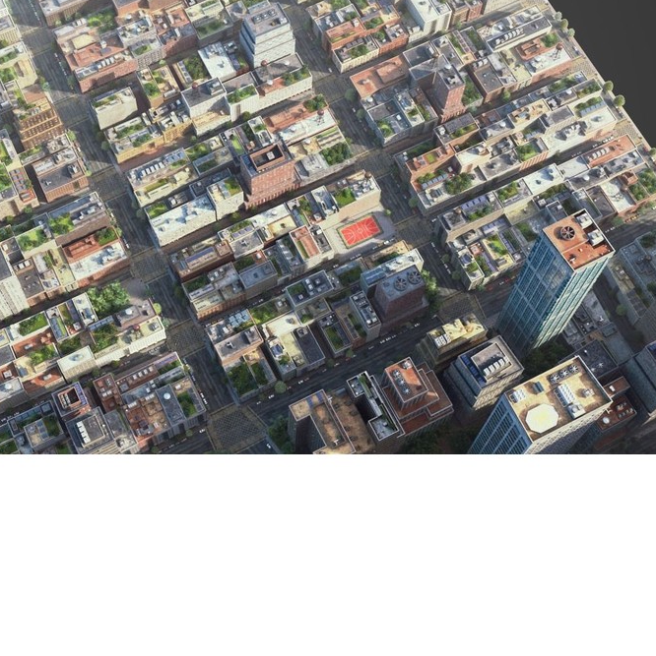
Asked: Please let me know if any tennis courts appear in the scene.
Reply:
No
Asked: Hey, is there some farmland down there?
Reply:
No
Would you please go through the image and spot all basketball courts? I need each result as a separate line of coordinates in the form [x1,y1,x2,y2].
[337,214,382,248]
